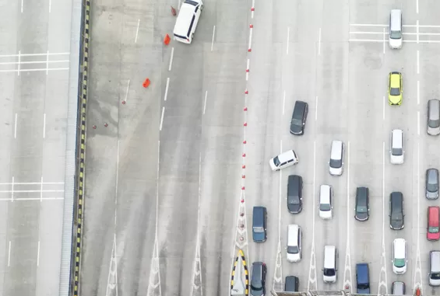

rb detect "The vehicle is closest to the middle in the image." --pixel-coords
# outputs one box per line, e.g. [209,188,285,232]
[270,150,299,171]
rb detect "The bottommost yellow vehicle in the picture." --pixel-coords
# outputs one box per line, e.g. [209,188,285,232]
[388,72,404,105]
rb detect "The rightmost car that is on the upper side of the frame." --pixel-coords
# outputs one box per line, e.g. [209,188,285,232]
[425,100,440,135]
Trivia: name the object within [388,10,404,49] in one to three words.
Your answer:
car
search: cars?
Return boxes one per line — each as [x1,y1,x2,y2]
[391,240,408,275]
[389,193,406,230]
[270,150,299,171]
[317,185,333,219]
[327,141,344,176]
[322,246,338,283]
[250,207,268,243]
[424,168,440,200]
[425,100,440,135]
[284,277,299,295]
[425,207,440,242]
[354,188,371,221]
[389,130,406,164]
[388,10,404,49]
[427,251,440,286]
[391,282,405,295]
[354,264,371,296]
[388,72,404,105]
[290,101,309,135]
[249,262,267,296]
[287,176,304,214]
[284,226,302,263]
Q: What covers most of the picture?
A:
paved ground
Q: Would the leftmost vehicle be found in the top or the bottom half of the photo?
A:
top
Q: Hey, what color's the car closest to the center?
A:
white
